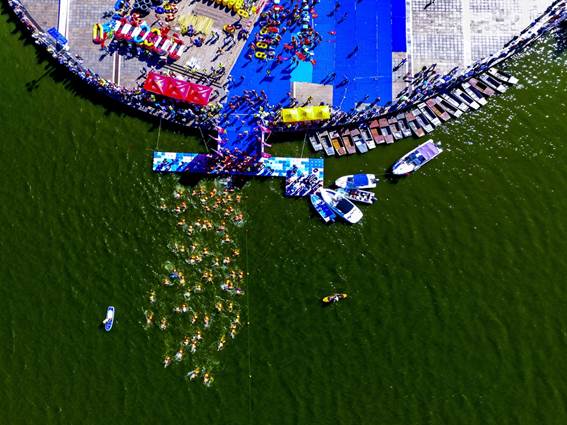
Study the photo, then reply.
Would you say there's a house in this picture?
No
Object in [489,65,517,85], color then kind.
white boat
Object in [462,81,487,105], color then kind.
white boat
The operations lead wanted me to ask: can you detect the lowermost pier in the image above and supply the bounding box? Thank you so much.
[153,152,326,199]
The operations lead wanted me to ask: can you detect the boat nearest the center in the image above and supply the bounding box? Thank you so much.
[311,194,332,222]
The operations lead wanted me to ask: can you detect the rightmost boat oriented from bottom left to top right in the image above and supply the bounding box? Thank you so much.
[391,139,441,173]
